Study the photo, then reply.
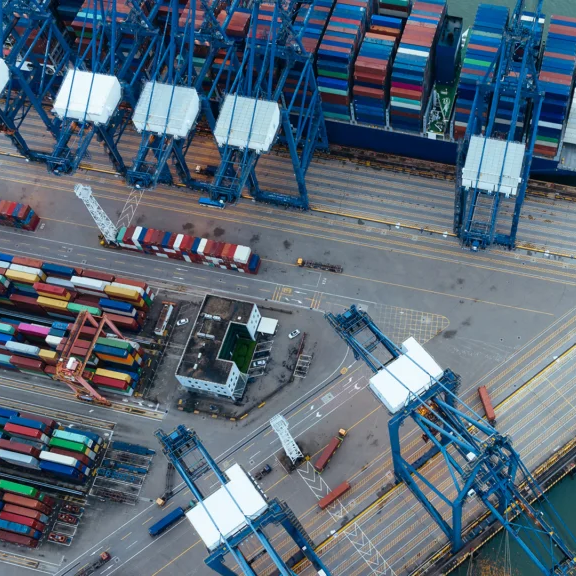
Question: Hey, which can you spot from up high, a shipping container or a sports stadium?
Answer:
shipping container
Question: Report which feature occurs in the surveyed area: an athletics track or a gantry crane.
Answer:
gantry crane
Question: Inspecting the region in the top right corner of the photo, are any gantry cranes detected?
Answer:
Yes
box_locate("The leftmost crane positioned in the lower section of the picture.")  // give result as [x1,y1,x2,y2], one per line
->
[50,308,133,401]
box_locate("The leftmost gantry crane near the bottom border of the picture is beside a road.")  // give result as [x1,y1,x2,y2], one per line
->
[156,418,325,576]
